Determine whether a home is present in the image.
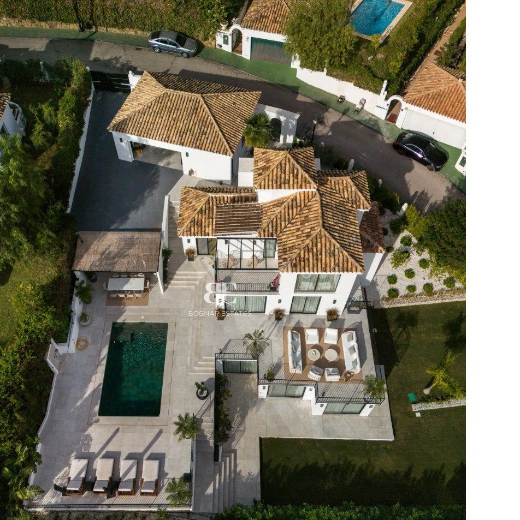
Yes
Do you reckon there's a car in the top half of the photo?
Yes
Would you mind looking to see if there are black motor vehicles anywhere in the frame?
Yes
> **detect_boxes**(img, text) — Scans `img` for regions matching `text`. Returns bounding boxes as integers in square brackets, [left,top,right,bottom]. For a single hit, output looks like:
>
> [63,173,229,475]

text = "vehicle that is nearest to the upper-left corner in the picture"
[147,33,197,58]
